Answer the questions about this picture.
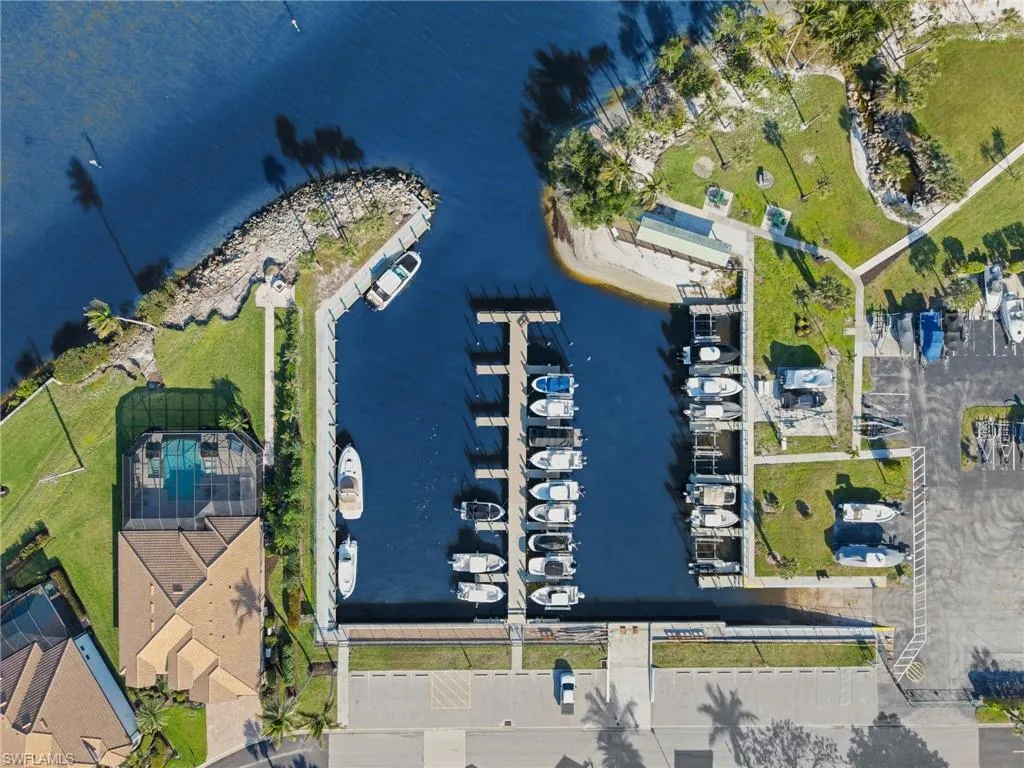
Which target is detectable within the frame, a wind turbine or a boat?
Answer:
boat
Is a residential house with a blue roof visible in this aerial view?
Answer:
No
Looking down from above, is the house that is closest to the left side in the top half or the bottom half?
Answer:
bottom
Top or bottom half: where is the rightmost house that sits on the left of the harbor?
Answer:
bottom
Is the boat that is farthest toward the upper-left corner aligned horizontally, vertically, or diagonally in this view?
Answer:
diagonally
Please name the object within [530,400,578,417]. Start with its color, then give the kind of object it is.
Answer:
white boat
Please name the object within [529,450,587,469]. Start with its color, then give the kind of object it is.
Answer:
white boat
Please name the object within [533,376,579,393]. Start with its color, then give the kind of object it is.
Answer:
blue boat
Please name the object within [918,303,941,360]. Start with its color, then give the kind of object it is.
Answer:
blue boat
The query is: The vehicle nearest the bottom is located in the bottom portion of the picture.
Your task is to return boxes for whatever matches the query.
[559,672,576,714]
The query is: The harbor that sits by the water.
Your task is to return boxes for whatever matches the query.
[315,206,896,646]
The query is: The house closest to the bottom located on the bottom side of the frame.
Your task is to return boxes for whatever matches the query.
[0,635,134,768]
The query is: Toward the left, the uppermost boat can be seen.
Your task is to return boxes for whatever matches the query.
[362,254,418,316]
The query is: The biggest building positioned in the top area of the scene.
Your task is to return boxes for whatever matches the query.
[612,216,736,270]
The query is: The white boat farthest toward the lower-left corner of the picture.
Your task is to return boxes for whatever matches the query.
[339,536,356,600]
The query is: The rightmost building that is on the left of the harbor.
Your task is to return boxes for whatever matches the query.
[118,519,267,707]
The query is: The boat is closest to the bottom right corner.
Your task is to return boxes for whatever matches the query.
[830,546,901,567]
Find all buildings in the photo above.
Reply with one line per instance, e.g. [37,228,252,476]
[0,635,134,768]
[612,216,736,270]
[118,519,267,707]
